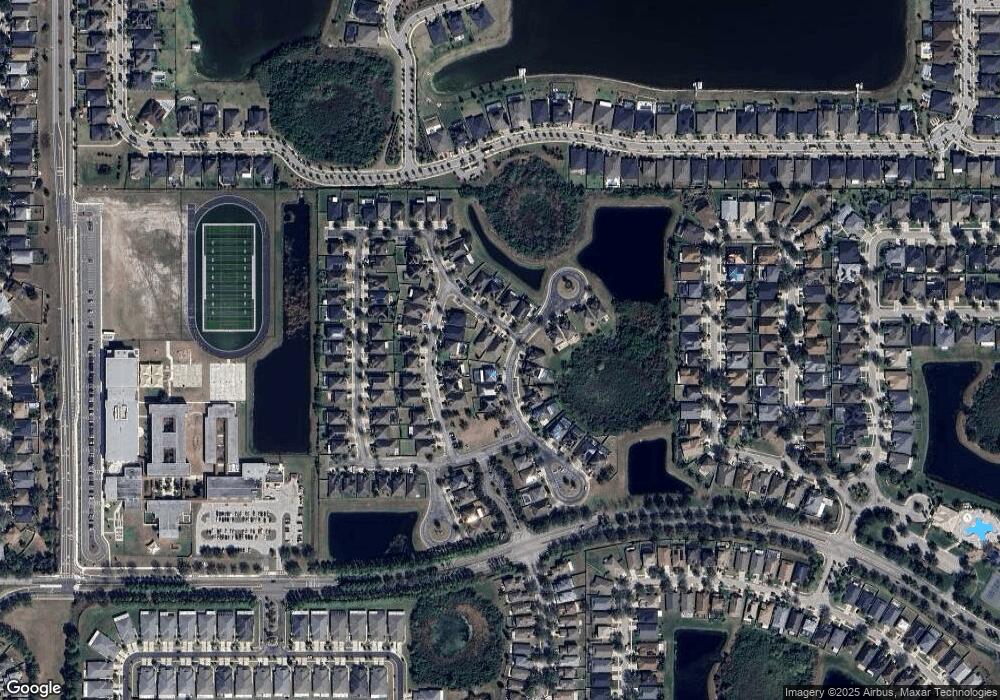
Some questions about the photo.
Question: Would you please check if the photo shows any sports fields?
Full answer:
Yes, the picture does show a sports field.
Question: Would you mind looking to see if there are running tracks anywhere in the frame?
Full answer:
Yes, the photo shows a running track.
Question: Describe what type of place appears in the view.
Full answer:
This image shows a residential area.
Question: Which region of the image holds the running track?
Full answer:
You can find the running track in the left area of the picture.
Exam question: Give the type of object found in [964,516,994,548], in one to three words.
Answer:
swimming pool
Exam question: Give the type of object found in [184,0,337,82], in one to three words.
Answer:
pond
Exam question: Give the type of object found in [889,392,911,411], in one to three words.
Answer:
house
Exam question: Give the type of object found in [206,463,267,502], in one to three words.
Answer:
building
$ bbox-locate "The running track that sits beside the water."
[185,195,271,358]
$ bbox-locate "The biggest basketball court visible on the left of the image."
[211,363,245,401]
